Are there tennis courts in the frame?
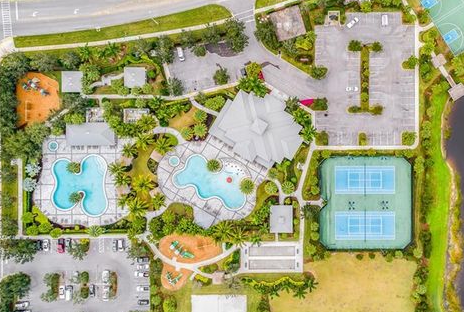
Yes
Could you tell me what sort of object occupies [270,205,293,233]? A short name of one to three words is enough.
building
